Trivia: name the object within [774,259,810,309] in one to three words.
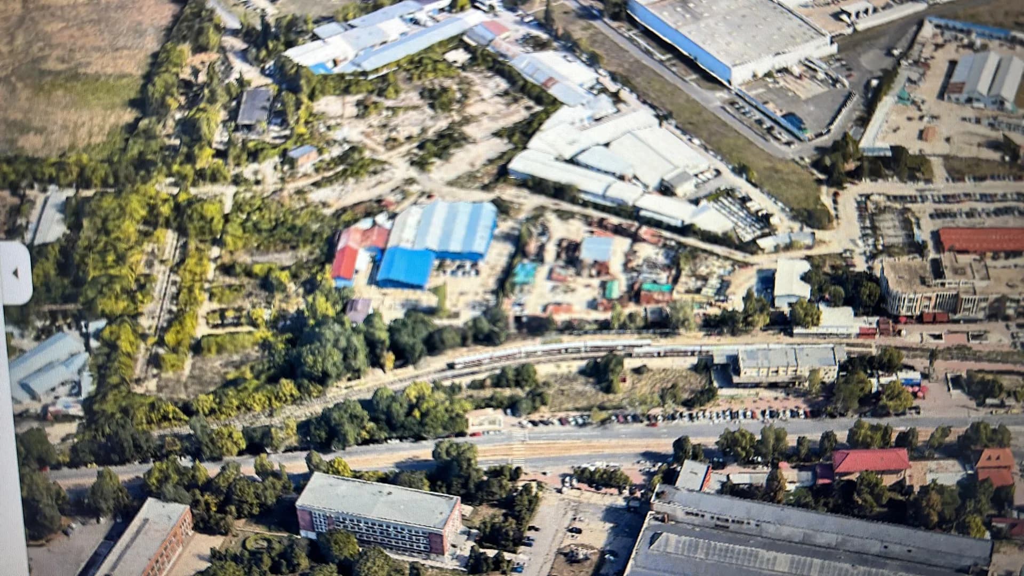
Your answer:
house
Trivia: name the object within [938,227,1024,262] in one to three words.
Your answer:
building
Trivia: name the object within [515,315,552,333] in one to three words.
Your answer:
shed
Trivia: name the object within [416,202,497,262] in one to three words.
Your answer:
shed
